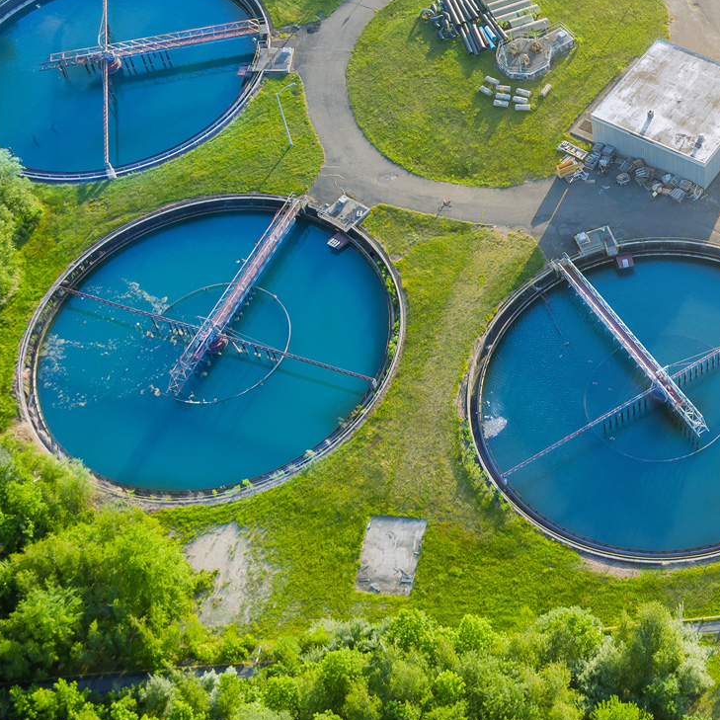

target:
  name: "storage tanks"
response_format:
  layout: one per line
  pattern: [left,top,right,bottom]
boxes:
[466,234,720,567]
[0,0,272,186]
[15,189,406,506]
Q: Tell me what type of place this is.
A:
industrial area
